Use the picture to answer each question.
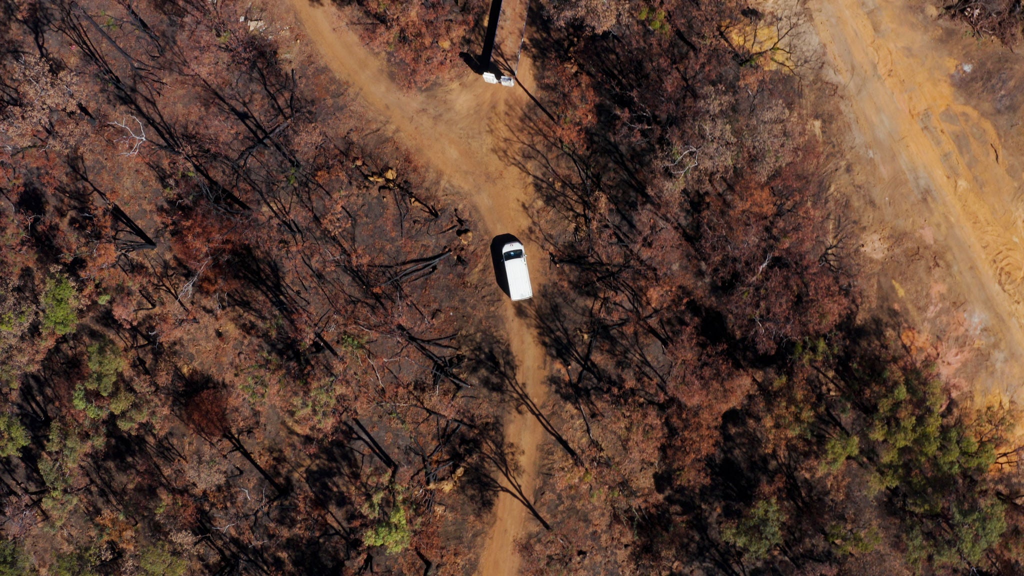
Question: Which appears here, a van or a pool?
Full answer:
Visible in the photo is a van.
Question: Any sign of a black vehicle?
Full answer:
No, the picture doesn't show any black vehicle.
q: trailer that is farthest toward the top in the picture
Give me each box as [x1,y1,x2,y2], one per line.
[482,0,531,86]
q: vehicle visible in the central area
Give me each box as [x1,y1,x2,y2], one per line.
[500,241,533,302]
